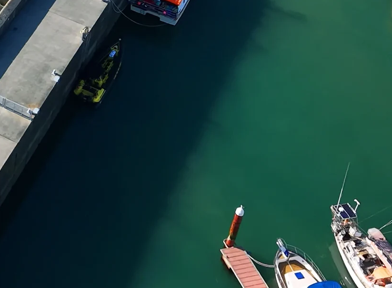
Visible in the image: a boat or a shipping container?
boat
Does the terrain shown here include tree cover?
No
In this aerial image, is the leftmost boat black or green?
black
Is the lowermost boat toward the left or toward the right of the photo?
right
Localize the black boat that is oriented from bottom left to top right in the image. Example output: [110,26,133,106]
[70,36,126,110]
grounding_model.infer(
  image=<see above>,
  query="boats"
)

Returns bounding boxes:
[129,0,187,35]
[279,246,340,288]
[70,36,126,110]
[326,179,392,288]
